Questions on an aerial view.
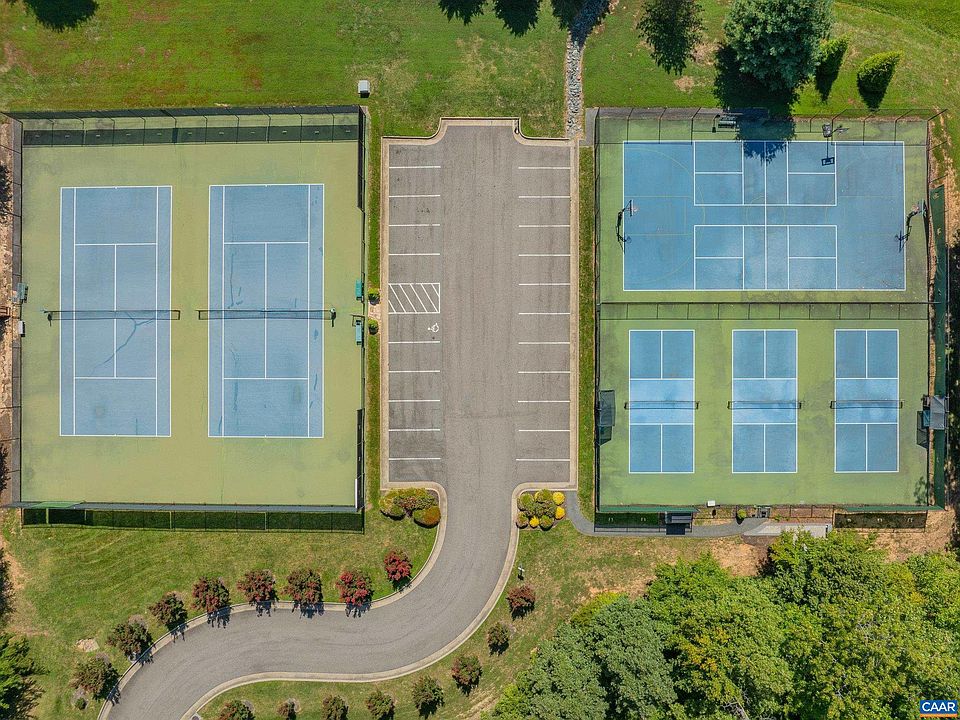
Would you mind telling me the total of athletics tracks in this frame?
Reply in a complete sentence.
No athletics tracks are visible.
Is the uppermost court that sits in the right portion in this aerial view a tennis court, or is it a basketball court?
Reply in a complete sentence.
What you see as the uppermost court that sits in the right portion is a basketball court.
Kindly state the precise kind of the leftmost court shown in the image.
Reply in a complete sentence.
The leftmost court appears to be a tennis court.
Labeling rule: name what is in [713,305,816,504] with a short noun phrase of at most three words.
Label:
sports court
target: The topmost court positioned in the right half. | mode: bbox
[599,119,929,304]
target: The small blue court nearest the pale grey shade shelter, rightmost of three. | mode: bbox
[816,305,929,504]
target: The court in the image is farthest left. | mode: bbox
[21,117,190,504]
